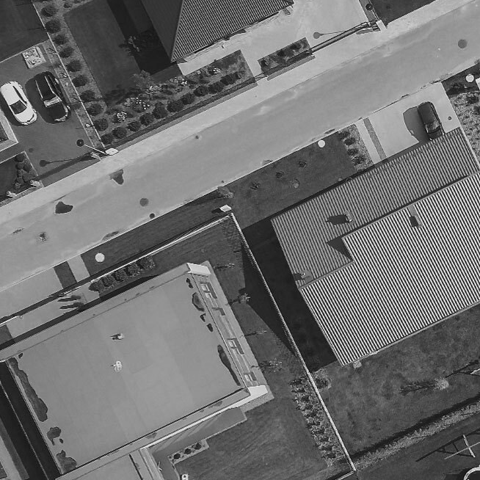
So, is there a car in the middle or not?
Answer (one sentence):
No, no car can be made out in the middle.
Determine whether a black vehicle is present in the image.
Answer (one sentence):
Yes, a black vehicle is visible in the scene.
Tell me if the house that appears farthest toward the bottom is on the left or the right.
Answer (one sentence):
The house that appears farthest toward the bottom sits on the left side.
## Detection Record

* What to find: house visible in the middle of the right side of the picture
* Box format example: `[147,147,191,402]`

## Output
[270,127,480,365]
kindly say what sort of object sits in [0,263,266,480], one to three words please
house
